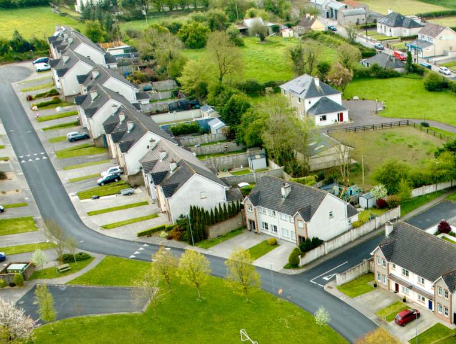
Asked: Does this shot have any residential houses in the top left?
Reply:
Yes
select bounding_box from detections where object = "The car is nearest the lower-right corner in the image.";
[393,308,423,324]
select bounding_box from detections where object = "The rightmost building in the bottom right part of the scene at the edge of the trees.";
[370,211,456,319]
